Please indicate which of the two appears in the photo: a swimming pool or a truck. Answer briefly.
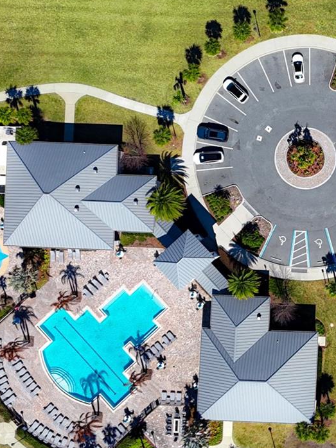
swimming pool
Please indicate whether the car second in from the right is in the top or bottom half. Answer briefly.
top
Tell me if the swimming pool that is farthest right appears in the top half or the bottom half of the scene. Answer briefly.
bottom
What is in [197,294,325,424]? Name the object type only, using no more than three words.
building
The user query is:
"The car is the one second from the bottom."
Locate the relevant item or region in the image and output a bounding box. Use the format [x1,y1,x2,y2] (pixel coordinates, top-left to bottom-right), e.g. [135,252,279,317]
[197,126,230,142]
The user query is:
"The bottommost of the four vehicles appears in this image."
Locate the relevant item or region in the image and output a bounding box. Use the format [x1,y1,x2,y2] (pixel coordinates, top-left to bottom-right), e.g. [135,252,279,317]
[196,150,225,164]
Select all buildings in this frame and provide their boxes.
[153,228,226,290]
[3,141,159,250]
[197,294,325,424]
